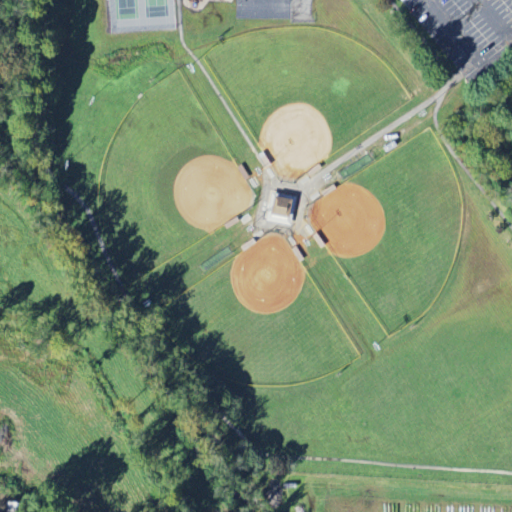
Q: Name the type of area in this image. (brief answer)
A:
sports ground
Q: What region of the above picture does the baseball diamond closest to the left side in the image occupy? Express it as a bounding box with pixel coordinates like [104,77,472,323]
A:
[99,70,254,288]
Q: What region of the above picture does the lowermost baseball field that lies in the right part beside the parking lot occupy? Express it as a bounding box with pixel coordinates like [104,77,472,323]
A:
[311,129,462,336]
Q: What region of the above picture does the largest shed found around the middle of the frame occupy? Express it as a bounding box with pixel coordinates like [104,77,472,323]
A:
[266,191,298,222]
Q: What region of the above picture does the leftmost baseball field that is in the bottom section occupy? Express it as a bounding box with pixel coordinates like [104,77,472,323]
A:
[158,234,358,386]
